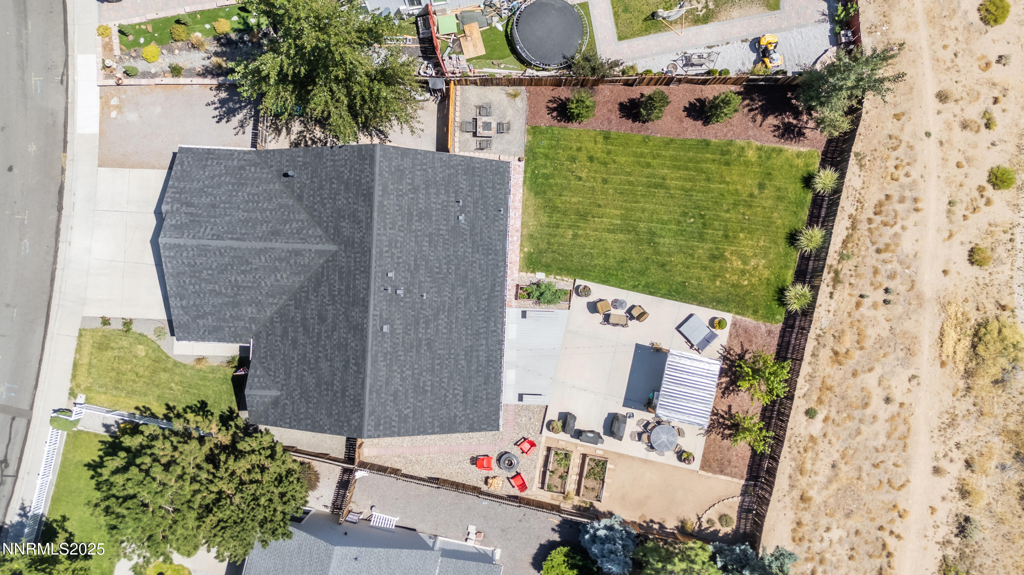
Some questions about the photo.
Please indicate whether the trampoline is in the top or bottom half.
top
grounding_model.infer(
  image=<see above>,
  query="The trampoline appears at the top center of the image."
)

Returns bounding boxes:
[511,0,591,70]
